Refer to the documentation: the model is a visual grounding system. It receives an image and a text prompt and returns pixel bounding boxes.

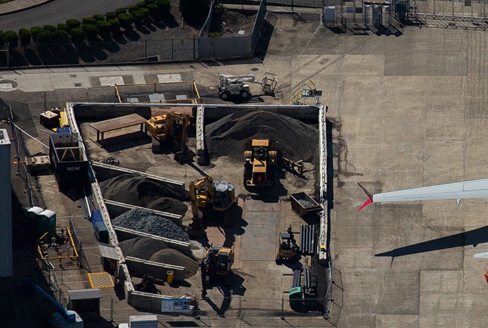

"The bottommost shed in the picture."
[68,294,102,326]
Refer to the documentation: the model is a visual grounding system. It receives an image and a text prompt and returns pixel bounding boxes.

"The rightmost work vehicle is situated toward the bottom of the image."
[275,230,298,267]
